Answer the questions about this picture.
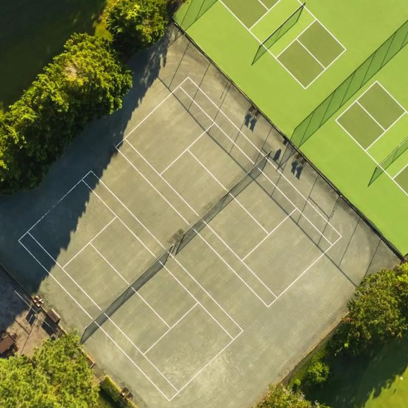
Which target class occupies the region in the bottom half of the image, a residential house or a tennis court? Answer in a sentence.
What appears in the bottom half of the image is a tennis court.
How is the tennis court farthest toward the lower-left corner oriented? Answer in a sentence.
I'd say the tennis court farthest toward the lower-left corner is aligned on a diagonal in the picture.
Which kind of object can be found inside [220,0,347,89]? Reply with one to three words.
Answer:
sports court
